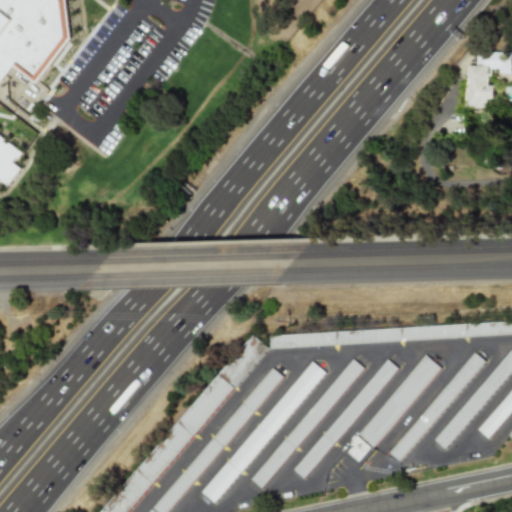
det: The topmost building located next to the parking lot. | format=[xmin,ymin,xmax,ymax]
[0,0,70,86]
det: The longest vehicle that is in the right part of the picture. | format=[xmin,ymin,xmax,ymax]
[320,40,350,78]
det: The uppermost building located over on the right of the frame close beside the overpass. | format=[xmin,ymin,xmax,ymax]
[271,322,512,350]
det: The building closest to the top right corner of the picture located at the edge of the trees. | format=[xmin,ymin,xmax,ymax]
[478,50,512,76]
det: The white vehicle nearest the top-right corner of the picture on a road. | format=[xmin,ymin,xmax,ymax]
[434,10,448,26]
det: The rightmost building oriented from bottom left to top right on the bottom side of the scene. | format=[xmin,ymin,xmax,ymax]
[479,393,512,440]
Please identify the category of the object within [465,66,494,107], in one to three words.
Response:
house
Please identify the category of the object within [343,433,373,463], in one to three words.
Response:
building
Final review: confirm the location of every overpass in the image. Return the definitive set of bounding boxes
[80,238,312,290]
